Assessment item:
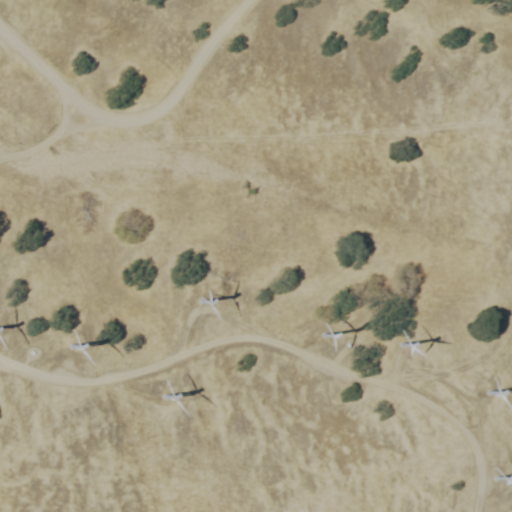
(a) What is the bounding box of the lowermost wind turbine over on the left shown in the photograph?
[162,381,188,414]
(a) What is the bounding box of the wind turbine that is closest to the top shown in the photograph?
[198,290,221,322]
